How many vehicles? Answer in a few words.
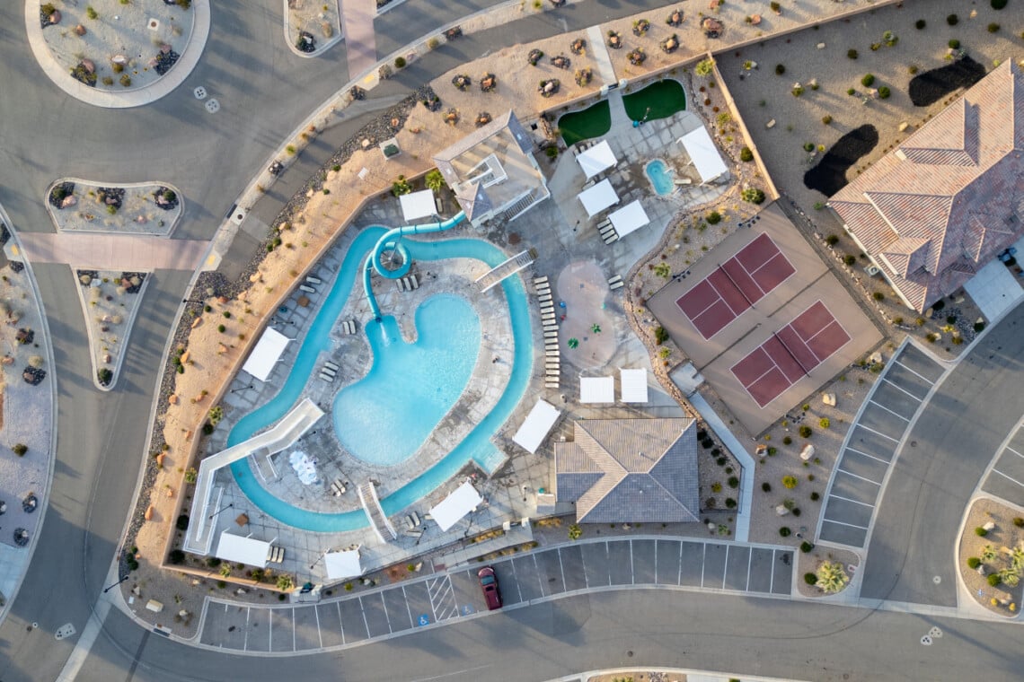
1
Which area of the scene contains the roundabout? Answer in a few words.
top left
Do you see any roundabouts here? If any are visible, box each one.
[38,0,195,93]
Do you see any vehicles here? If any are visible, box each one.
[475,567,499,616]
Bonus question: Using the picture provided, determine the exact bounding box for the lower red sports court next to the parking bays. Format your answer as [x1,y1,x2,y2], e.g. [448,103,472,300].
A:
[730,299,852,409]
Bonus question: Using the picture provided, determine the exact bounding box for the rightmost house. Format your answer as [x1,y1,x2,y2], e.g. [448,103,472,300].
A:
[826,59,1024,314]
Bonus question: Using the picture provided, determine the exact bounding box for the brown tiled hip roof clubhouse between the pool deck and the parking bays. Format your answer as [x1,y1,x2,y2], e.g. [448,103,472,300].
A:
[554,418,700,524]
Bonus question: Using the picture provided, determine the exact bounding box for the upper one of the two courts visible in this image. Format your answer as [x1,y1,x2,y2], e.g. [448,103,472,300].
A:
[676,231,797,341]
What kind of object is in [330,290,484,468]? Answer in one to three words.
swimming pool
